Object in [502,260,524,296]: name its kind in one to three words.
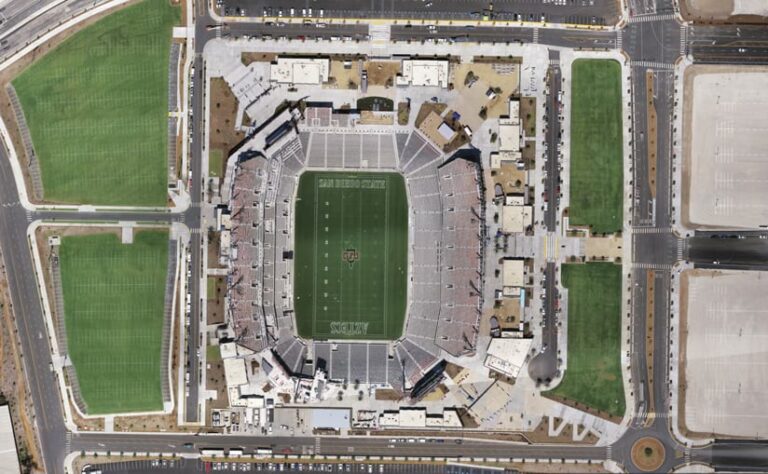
building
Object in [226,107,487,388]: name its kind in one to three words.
stadium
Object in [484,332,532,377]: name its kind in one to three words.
building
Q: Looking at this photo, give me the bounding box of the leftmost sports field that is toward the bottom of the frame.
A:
[60,229,169,415]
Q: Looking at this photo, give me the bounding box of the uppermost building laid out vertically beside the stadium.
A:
[490,101,520,168]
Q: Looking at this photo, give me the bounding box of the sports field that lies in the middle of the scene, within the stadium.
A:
[290,166,415,344]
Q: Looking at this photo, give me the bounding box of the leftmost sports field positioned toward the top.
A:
[14,0,182,206]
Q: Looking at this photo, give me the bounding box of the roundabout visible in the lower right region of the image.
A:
[630,437,665,472]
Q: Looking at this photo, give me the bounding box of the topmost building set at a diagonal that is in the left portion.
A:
[230,109,300,164]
